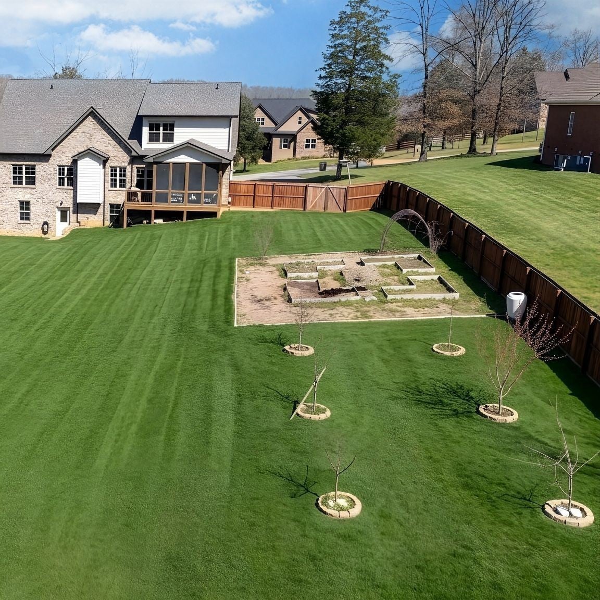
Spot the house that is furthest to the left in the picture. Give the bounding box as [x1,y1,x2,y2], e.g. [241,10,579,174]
[0,76,240,242]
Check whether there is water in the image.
No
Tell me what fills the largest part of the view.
grass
